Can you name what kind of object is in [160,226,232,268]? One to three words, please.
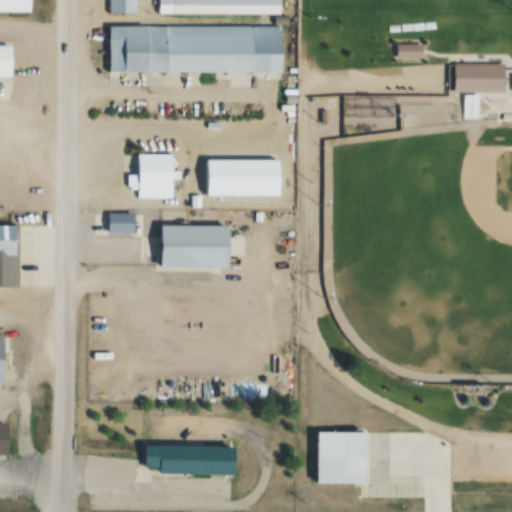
shed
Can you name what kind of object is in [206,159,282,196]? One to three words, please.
shed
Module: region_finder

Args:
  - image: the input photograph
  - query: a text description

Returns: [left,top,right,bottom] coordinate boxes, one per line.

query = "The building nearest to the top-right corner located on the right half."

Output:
[454,64,507,92]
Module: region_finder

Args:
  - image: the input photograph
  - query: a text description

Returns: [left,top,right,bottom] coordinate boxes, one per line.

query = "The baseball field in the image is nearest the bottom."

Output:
[323,121,512,383]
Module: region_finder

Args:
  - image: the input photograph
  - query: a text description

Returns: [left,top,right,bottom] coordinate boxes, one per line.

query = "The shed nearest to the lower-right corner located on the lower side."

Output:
[316,429,368,486]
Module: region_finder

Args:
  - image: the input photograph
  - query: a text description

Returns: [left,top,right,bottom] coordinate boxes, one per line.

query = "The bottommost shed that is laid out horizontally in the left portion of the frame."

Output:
[145,442,237,474]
